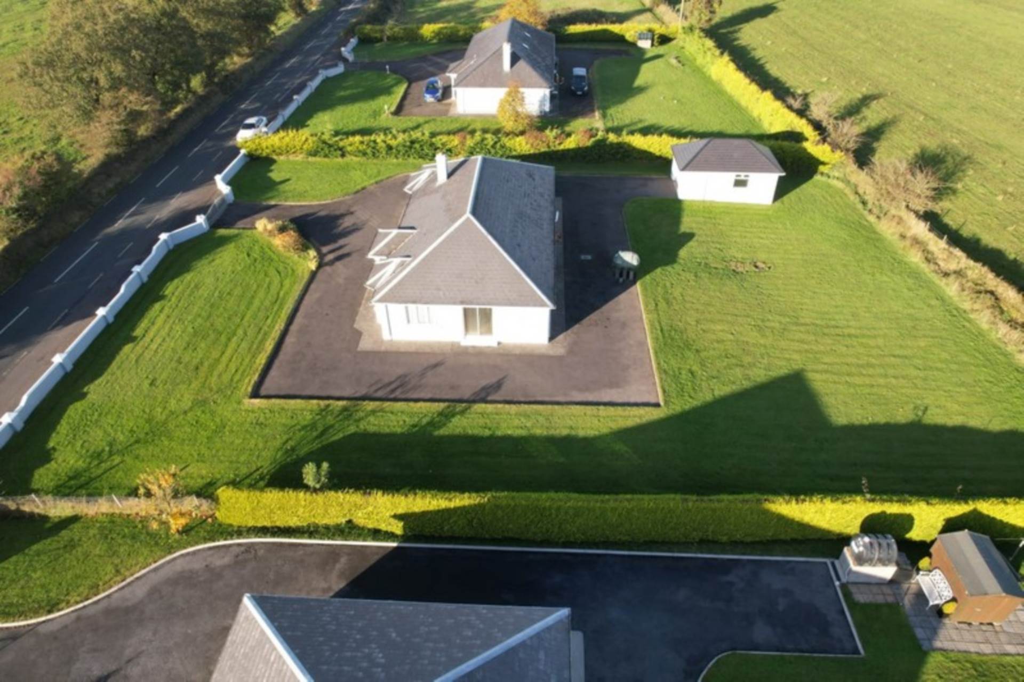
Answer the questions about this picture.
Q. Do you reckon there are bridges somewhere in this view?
No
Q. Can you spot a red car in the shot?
No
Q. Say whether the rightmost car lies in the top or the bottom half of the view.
top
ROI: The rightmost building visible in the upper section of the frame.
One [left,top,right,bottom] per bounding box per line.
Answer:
[667,139,786,201]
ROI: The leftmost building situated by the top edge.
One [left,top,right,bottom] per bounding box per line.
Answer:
[443,18,554,111]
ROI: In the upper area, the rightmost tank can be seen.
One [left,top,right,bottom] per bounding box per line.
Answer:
[613,248,641,282]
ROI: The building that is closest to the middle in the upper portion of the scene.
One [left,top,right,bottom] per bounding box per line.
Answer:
[365,149,556,342]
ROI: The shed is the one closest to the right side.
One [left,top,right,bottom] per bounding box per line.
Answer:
[920,531,1024,627]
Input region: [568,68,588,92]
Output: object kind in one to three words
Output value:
car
